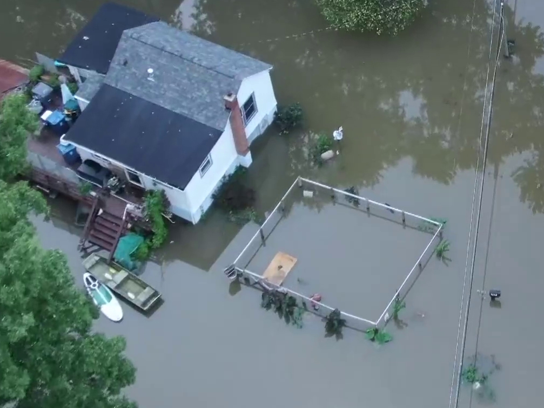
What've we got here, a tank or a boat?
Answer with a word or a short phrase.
boat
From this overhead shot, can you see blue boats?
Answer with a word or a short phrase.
No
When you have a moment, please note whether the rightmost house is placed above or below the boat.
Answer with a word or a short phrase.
above it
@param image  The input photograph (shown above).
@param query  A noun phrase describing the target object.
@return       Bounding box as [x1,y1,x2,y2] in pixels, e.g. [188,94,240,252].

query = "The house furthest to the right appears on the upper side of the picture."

[62,3,278,223]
